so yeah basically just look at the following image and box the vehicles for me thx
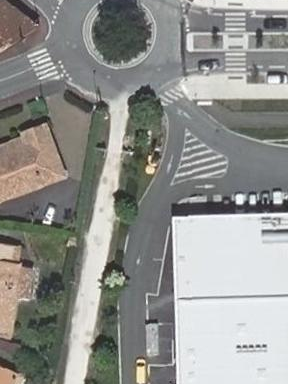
[180,196,208,208]
[212,195,222,215]
[248,194,258,214]
[264,18,287,29]
[273,192,284,214]
[146,154,156,175]
[135,358,147,384]
[198,60,220,70]
[43,205,56,225]
[222,198,232,215]
[260,193,272,214]
[266,73,288,84]
[235,194,246,214]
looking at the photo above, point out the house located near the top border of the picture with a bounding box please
[0,0,36,52]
